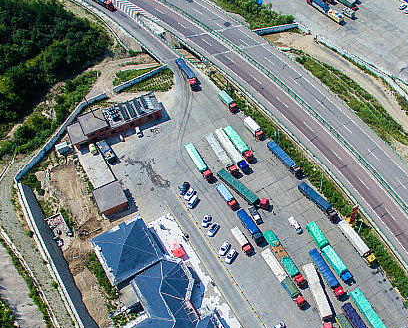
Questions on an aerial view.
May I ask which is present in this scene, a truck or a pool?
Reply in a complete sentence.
I can see a truck in this picture.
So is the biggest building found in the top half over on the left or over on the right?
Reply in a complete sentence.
You can find the biggest building found in the top half on the left side of the picture.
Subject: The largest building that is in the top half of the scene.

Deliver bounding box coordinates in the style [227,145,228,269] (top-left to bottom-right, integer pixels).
[66,91,163,150]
